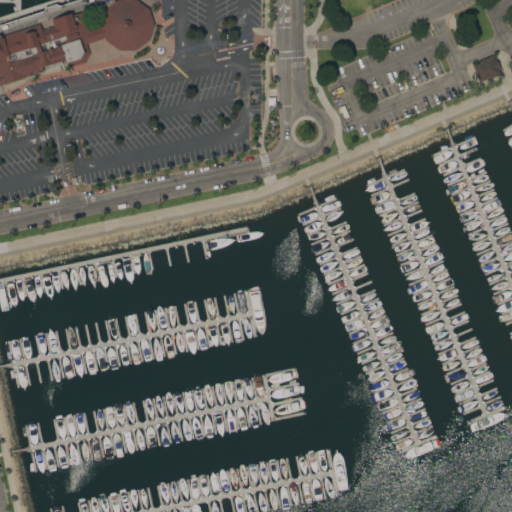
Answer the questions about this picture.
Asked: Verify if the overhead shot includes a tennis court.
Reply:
No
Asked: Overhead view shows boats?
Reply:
Yes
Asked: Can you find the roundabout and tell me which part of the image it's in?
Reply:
top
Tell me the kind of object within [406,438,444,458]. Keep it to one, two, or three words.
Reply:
boat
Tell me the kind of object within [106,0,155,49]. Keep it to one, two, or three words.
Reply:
building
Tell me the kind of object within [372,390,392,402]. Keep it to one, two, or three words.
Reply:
boat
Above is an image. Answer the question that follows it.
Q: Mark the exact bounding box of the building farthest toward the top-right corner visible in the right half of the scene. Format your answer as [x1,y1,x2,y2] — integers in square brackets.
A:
[474,54,504,87]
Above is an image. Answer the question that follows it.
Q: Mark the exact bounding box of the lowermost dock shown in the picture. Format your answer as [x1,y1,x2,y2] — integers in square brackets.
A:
[48,449,338,512]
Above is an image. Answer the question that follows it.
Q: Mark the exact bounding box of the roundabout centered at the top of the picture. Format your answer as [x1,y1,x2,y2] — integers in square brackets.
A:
[282,106,331,156]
